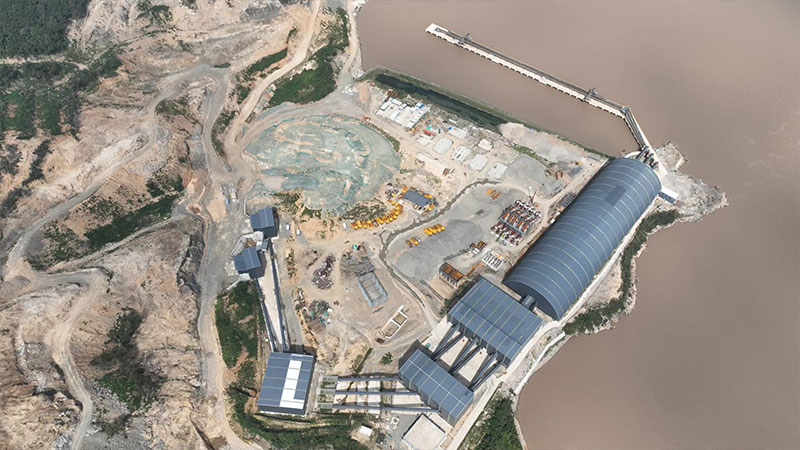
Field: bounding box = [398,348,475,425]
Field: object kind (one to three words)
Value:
building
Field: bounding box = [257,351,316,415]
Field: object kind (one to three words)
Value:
building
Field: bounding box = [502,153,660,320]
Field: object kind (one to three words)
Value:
shed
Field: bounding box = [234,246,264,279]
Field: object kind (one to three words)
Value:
house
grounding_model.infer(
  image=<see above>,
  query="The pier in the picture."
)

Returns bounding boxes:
[426,23,667,174]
